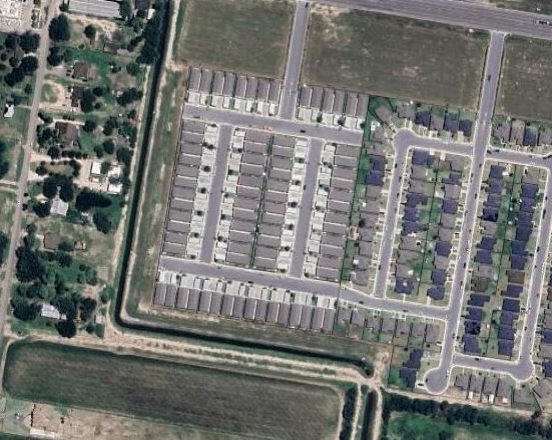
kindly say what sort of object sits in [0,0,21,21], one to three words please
building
